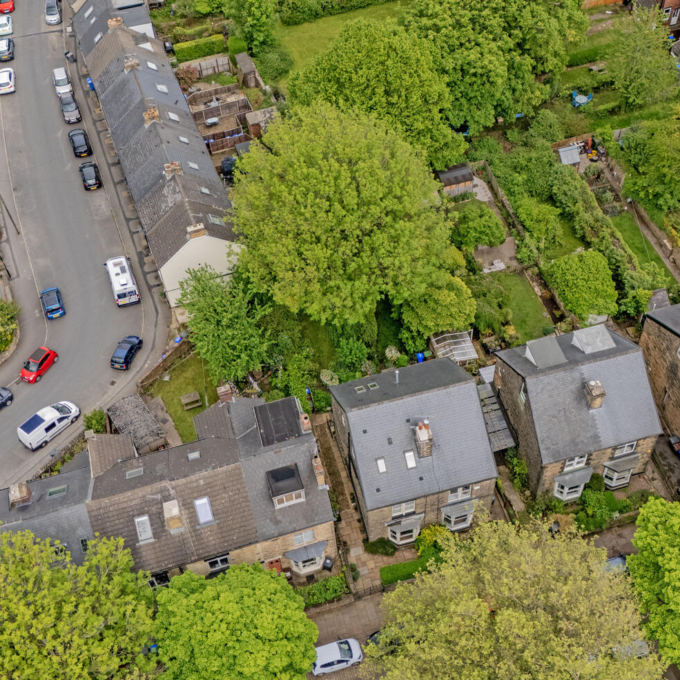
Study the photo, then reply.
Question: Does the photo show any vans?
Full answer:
Yes, I can see a van in this picture.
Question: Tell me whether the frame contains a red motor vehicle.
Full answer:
Yes, there's a red motor vehicle here.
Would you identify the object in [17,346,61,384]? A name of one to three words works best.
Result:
car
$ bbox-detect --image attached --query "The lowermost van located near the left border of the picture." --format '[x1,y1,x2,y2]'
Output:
[15,402,81,451]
